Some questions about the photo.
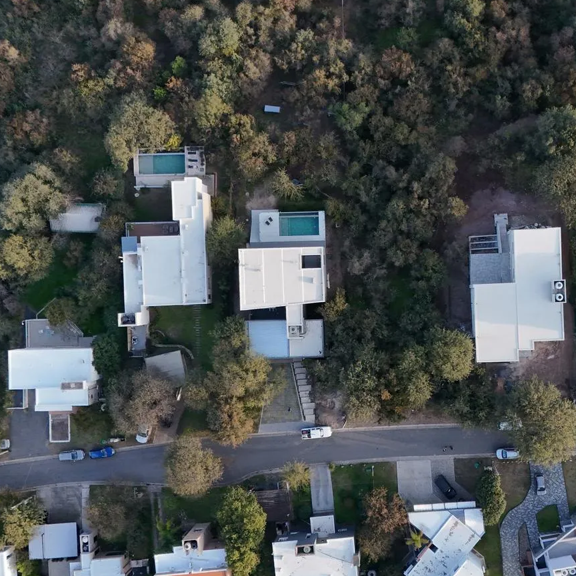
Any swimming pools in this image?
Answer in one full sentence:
Yes, I can see a swimming pool in this picture.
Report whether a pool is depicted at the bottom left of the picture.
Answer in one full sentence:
No, there's no pool to be seen at the bottom left of the picture.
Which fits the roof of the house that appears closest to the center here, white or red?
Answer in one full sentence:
The roof of the house that appears closest to the center looks white in the image.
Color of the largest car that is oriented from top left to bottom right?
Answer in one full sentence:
The largest car that is oriented from top left to bottom right looks black in the image.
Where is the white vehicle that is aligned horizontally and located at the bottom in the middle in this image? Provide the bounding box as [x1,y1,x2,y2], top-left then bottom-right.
[301,426,332,440]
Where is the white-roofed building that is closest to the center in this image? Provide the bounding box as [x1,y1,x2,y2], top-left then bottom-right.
[239,247,328,362]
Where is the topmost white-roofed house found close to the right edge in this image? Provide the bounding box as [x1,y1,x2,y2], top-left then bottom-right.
[469,214,567,362]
